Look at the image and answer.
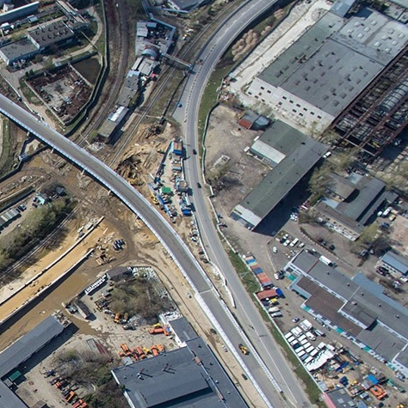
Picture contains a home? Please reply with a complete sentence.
Yes, there's a home down there.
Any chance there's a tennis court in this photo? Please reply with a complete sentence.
No, there appears to be no tennis court in this shot.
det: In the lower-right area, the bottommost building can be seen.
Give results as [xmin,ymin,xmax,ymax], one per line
[319,388,358,408]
